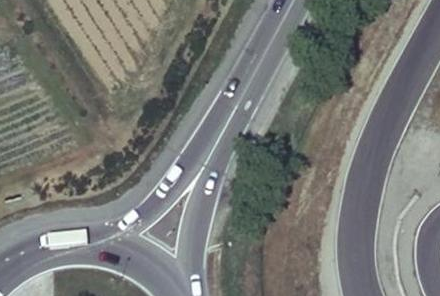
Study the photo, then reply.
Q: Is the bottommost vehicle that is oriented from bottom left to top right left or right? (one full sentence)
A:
The bottommost vehicle that is oriented from bottom left to top right appears in the left half of the scene.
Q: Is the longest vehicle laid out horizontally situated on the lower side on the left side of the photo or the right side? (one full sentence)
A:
The longest vehicle laid out horizontally situated on the lower side is on the left side of the image.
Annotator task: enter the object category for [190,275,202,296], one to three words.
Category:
vehicle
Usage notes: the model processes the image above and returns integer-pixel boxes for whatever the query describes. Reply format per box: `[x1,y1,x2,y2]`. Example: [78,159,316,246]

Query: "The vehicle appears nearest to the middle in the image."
[205,172,218,196]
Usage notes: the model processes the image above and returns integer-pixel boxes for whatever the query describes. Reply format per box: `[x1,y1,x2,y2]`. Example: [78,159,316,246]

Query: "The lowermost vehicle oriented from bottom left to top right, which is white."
[118,211,139,231]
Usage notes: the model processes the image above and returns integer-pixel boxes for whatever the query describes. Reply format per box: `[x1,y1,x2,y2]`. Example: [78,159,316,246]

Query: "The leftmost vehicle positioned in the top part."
[226,78,240,98]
